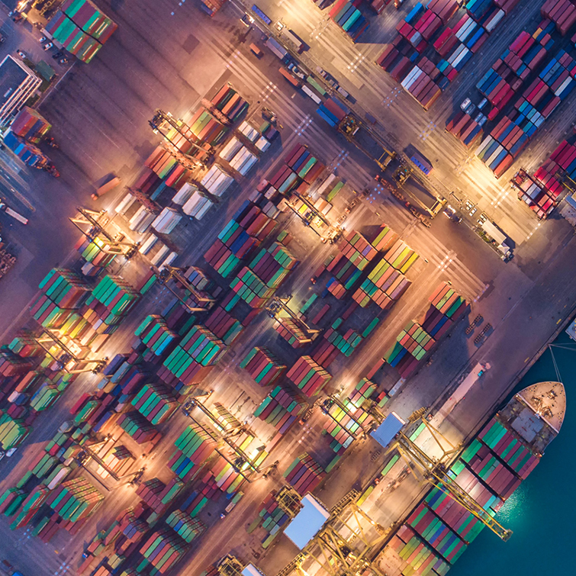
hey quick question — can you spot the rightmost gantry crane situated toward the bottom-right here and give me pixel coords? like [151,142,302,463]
[357,392,516,543]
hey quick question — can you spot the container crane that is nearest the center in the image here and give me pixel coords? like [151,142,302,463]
[265,292,330,345]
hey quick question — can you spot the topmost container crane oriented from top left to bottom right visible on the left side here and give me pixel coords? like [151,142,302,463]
[145,107,218,166]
